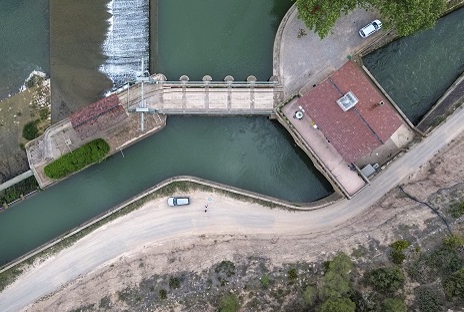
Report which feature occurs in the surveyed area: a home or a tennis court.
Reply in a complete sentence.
The one in the frame is a home.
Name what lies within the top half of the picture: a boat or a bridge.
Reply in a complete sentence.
What appears within the top half of the picture is a bridge.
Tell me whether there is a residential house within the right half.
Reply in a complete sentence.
Yes, a residential house is visible within the right half.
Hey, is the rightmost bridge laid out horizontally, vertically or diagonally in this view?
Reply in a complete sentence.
Seen from above, the rightmost bridge lies horizontally.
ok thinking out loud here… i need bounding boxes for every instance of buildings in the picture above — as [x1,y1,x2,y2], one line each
[70,93,128,140]
[298,61,404,162]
